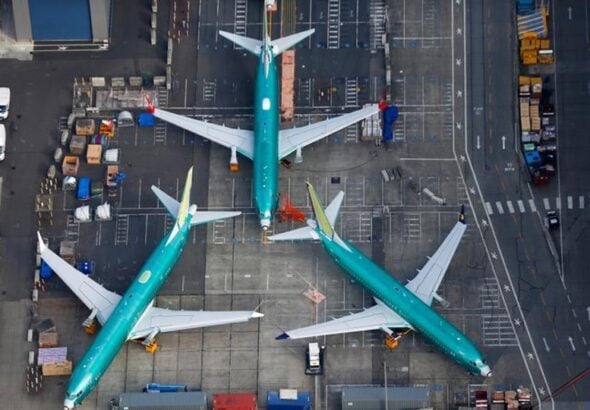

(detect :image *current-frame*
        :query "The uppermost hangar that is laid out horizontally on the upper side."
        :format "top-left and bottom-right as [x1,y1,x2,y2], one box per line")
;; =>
[13,0,108,44]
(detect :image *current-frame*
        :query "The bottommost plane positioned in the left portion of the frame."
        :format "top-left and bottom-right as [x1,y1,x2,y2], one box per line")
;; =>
[33,167,267,410]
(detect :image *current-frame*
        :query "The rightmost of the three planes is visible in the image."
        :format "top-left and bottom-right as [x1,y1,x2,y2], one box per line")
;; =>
[267,182,490,377]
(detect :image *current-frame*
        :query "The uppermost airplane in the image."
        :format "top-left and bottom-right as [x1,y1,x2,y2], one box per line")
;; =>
[143,0,390,229]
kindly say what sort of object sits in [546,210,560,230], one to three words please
vehicle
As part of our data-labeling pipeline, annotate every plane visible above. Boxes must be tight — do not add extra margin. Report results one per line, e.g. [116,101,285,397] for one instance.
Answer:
[143,0,390,229]
[267,182,490,377]
[33,167,267,410]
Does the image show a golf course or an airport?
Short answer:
airport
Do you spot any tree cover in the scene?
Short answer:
No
